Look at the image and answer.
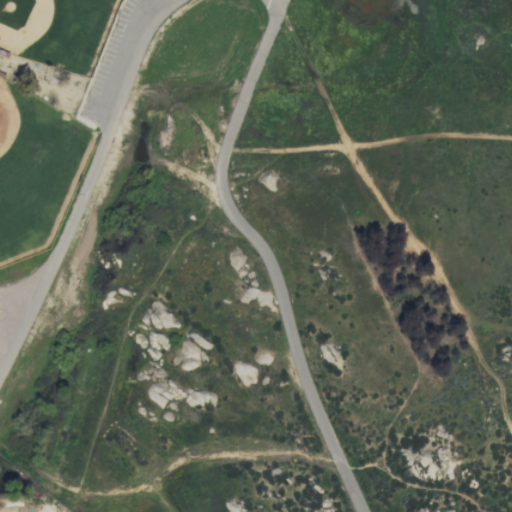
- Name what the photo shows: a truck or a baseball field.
baseball field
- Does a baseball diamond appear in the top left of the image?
Yes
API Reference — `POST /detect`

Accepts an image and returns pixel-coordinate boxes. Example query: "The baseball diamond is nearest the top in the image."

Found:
[0,0,122,76]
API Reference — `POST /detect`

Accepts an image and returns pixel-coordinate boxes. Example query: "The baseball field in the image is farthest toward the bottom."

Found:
[0,78,98,266]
